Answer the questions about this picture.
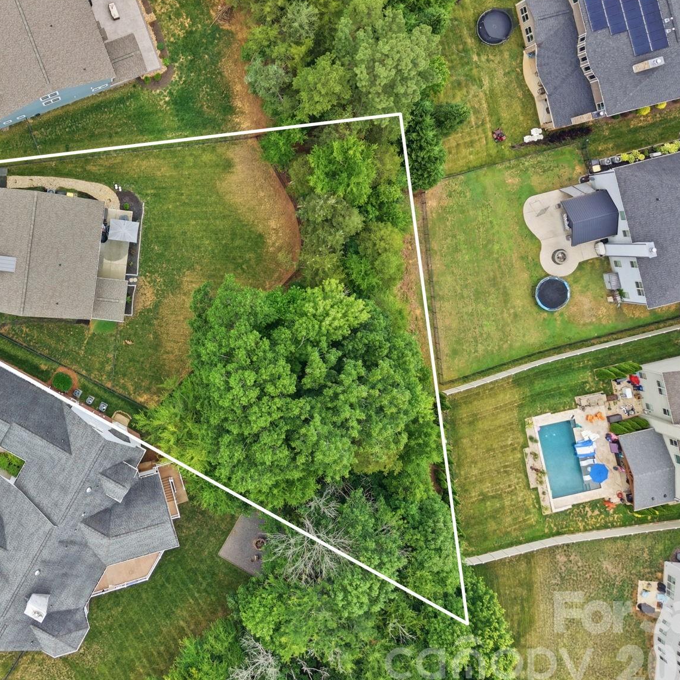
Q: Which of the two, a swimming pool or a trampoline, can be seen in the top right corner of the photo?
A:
trampoline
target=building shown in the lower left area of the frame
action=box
[0,361,190,658]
